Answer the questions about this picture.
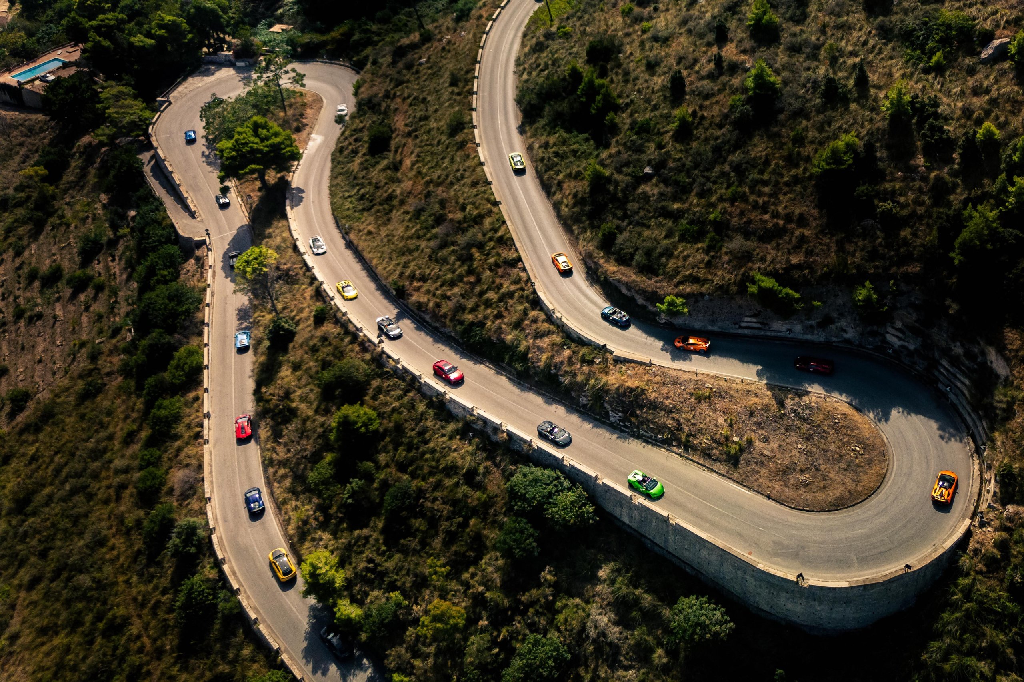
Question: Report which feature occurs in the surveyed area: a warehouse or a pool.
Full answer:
Visible in the photo is a pool.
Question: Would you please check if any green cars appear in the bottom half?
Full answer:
Yes, in the bottom half there is a green car.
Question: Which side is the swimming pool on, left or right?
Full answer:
You can find the swimming pool on the left side of the picture.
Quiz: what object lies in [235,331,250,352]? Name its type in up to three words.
car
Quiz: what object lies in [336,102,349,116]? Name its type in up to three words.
vehicle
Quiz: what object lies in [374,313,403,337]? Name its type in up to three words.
car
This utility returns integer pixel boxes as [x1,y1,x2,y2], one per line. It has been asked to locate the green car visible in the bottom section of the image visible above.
[625,469,667,499]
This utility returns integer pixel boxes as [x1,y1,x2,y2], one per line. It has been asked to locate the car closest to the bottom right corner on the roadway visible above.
[930,472,958,506]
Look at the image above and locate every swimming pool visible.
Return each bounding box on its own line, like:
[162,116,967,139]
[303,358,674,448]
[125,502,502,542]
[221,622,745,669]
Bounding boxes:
[6,56,72,82]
